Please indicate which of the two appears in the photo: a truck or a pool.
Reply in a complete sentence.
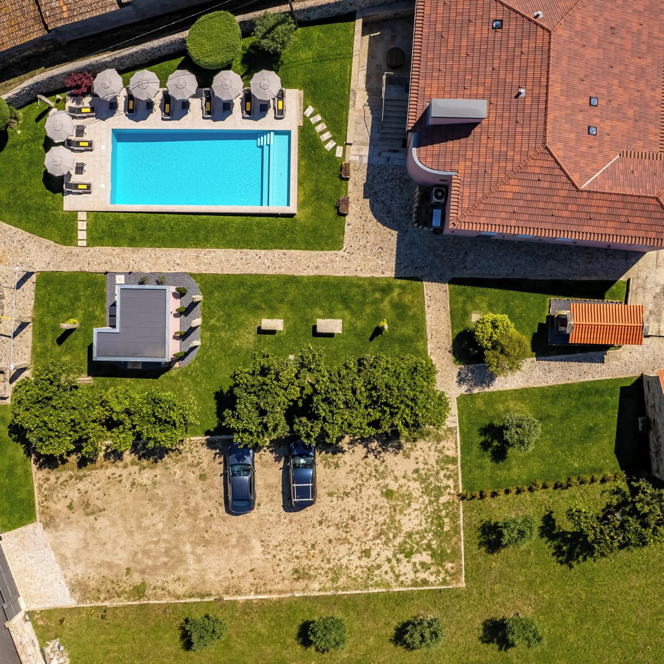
Visible in the photo is a pool.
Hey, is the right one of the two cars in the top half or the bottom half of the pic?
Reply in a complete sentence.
Seen from above, the right one of the two cars lies in the bottom half of the view.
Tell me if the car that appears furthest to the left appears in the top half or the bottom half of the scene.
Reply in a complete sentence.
It is in the bottom half that the car that appears furthest to the left appears.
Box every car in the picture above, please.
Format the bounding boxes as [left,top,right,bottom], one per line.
[225,444,257,514]
[286,440,318,511]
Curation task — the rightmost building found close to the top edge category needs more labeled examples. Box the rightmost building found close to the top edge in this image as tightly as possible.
[404,0,664,250]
